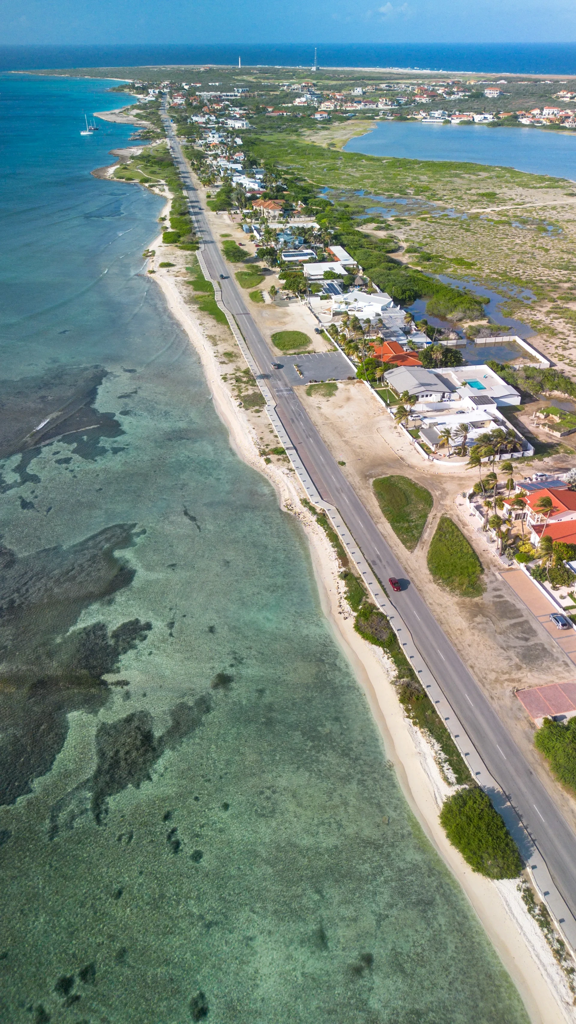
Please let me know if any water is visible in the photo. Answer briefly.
Yes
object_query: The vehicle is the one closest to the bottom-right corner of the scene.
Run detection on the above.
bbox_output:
[547,611,571,629]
